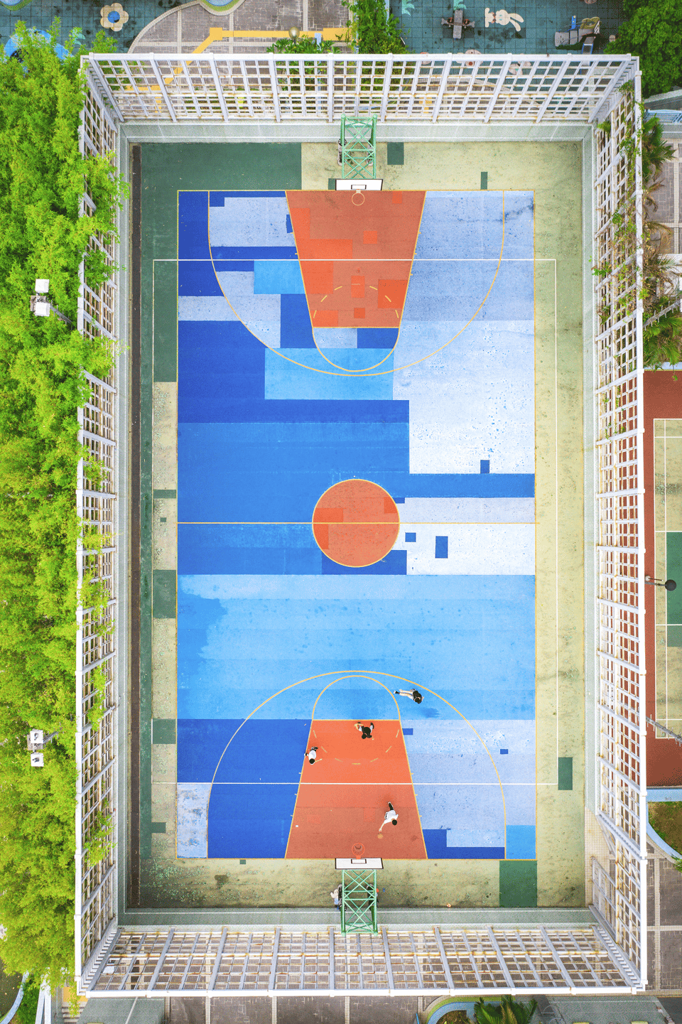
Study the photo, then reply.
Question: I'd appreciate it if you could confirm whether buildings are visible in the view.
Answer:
No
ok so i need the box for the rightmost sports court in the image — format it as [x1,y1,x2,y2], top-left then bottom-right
[602,370,682,785]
